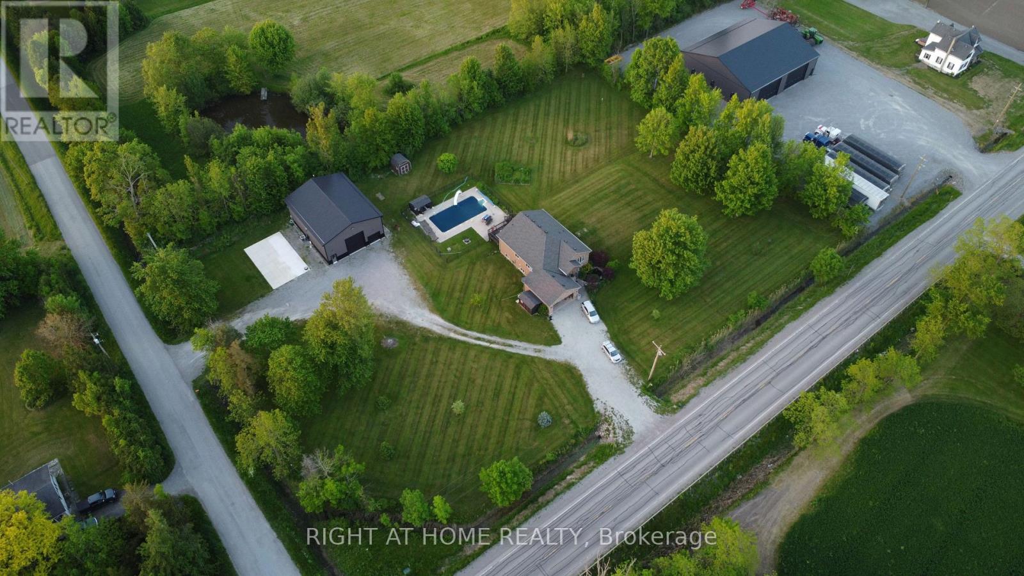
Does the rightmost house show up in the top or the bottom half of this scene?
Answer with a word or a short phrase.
top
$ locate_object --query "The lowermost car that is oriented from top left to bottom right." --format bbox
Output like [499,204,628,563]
[601,339,625,363]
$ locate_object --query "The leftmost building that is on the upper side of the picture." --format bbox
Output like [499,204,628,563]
[284,172,387,265]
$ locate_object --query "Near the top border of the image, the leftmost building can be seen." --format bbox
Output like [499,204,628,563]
[680,18,822,110]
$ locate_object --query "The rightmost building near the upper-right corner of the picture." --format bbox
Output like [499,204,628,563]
[906,18,995,76]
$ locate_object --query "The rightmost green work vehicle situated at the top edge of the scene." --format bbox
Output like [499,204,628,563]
[799,28,826,48]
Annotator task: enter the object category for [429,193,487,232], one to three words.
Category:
swimming pool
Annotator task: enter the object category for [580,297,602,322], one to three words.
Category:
car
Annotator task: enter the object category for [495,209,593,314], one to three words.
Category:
house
